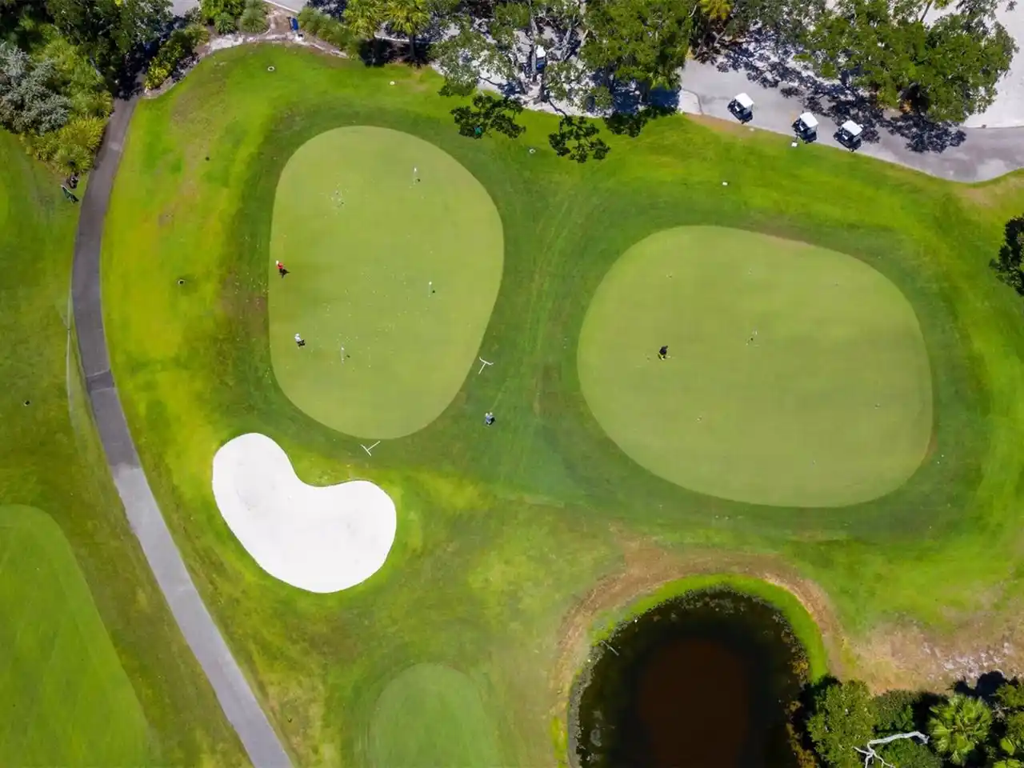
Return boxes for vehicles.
[833,121,863,150]
[532,45,546,72]
[791,113,818,142]
[729,94,754,123]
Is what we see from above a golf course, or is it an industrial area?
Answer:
golf course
